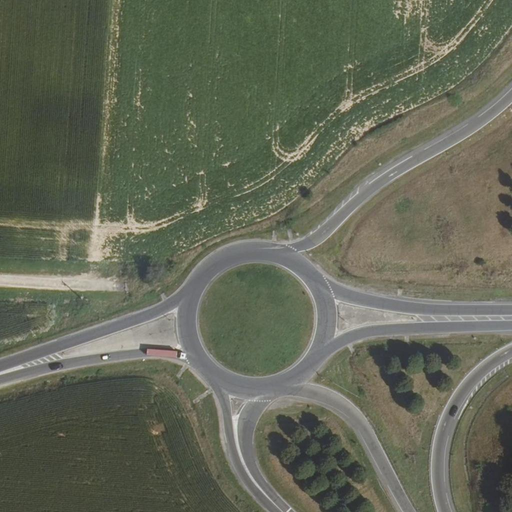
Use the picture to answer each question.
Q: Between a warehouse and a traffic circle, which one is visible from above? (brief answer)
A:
traffic circle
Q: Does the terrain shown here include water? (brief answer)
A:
No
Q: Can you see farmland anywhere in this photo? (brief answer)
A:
Yes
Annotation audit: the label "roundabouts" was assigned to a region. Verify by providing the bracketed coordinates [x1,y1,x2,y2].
[176,239,336,400]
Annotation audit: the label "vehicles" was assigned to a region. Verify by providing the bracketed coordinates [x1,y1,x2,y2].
[100,354,108,360]
[49,363,62,369]
[146,349,186,358]
[450,405,458,416]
